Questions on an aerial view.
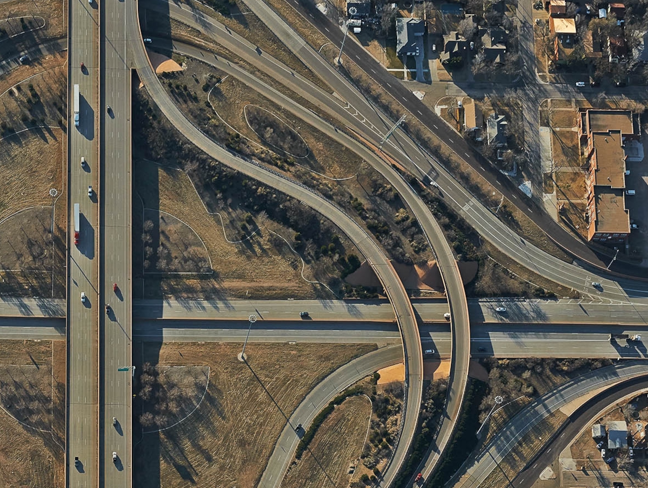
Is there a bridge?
Yes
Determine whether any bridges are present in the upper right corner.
No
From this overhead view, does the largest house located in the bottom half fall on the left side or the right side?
right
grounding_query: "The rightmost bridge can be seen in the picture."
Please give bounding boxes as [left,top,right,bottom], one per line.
[439,261,471,386]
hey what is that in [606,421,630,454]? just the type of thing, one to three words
house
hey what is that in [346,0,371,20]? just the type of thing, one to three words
house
